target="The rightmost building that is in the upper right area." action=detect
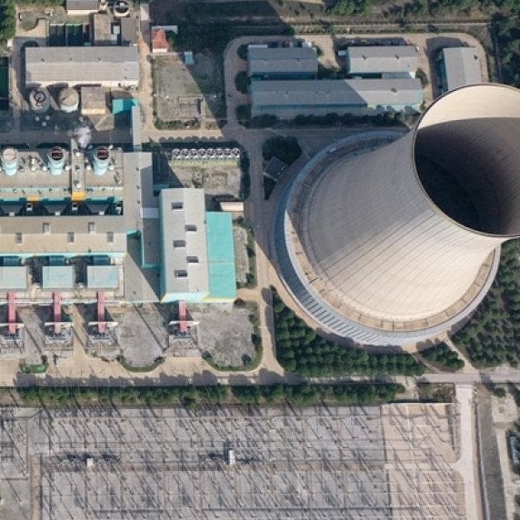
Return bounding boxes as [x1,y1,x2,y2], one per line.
[437,46,481,93]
